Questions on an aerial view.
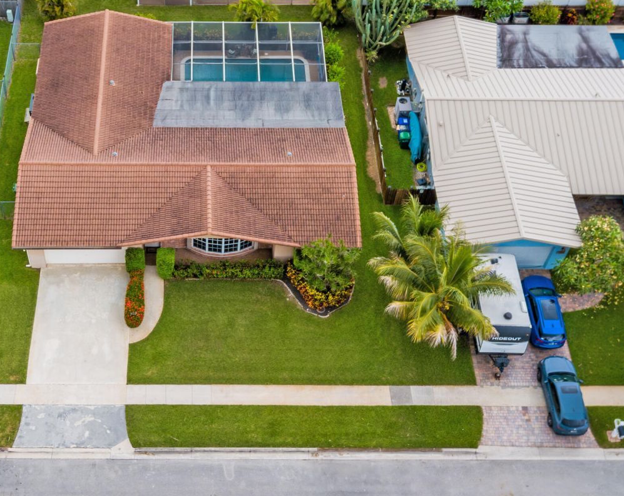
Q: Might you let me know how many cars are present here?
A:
2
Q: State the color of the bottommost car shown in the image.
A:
blue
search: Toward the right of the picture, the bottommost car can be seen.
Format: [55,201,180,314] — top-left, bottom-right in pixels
[531,358,588,441]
